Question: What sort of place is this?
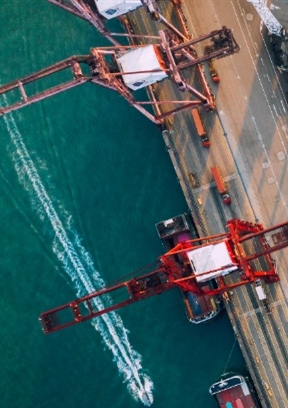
port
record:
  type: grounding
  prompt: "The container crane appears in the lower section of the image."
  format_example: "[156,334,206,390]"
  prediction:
[35,219,288,338]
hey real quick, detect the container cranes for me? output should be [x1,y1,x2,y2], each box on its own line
[25,0,198,52]
[0,20,250,134]
[35,219,288,338]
